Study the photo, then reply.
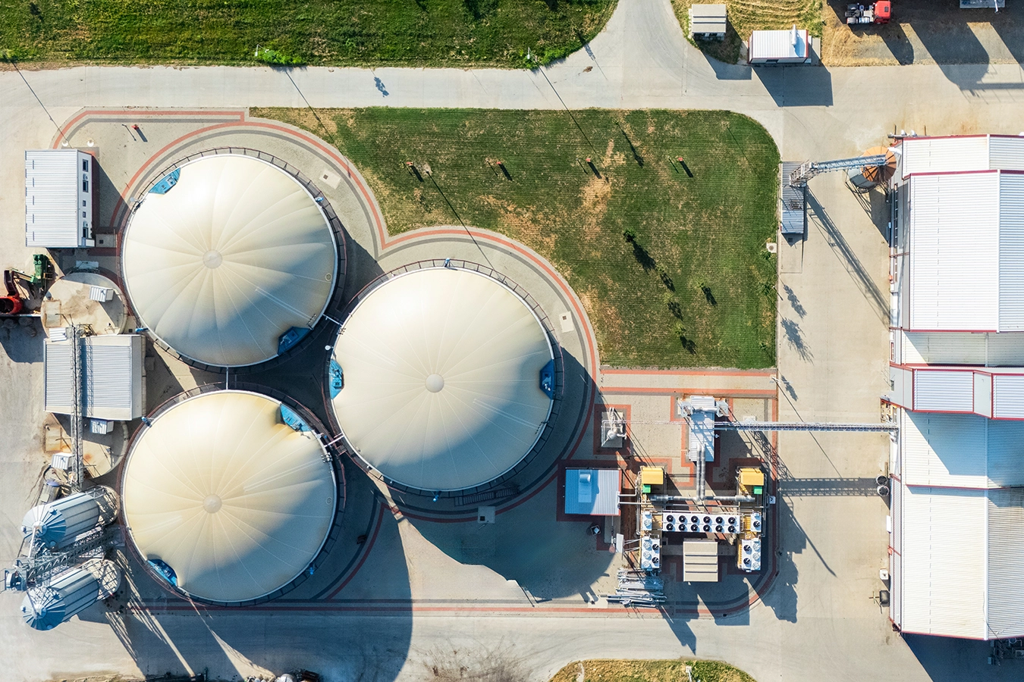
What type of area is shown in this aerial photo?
industrial area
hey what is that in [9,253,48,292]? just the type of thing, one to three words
work vehicle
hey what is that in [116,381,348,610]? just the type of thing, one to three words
storage tank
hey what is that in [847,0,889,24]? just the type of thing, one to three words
truck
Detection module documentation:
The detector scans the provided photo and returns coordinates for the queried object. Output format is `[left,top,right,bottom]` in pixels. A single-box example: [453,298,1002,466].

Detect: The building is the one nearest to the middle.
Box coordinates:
[565,466,621,516]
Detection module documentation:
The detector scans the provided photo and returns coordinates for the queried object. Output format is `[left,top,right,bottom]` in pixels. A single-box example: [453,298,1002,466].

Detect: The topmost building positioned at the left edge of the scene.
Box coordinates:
[25,150,98,248]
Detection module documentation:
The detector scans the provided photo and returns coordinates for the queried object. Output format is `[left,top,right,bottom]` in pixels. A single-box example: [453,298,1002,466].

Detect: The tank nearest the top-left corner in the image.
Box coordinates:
[116,146,349,375]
